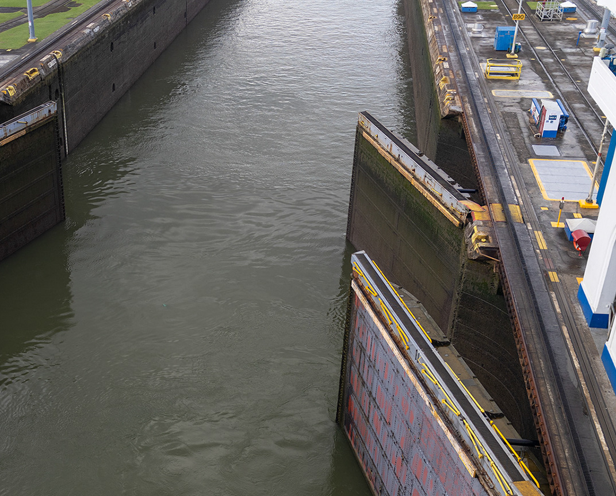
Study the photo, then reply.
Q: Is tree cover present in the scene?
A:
No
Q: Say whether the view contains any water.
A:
Yes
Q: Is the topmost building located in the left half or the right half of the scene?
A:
right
